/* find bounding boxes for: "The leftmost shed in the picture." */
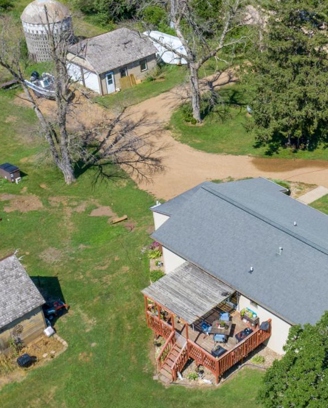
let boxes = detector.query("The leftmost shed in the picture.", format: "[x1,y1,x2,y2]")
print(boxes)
[0,159,21,182]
